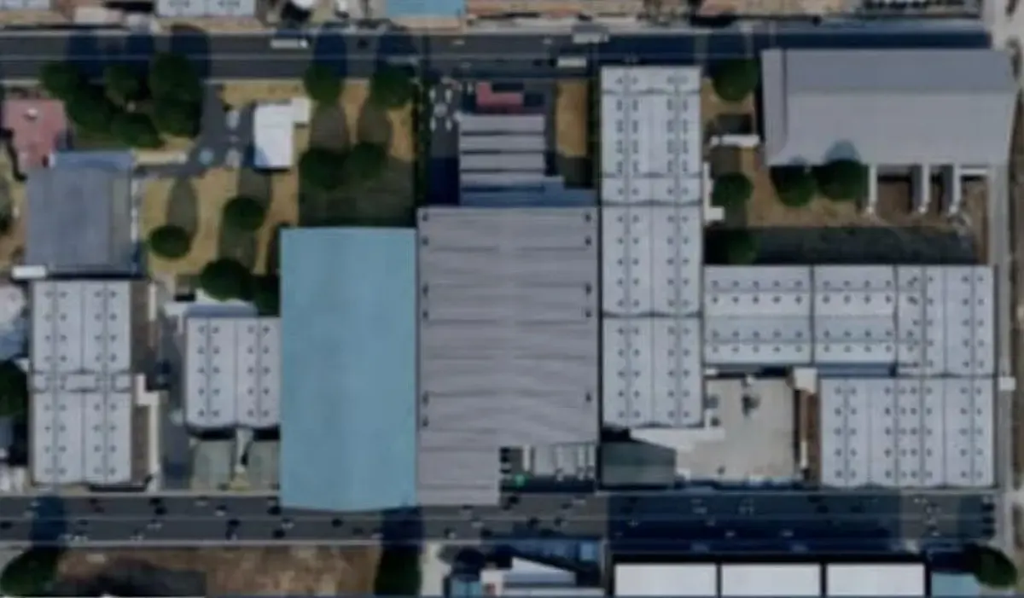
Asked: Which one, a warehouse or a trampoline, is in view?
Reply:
warehouse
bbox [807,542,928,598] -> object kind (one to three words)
building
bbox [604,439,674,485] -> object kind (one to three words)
shed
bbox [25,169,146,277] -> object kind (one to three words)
building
